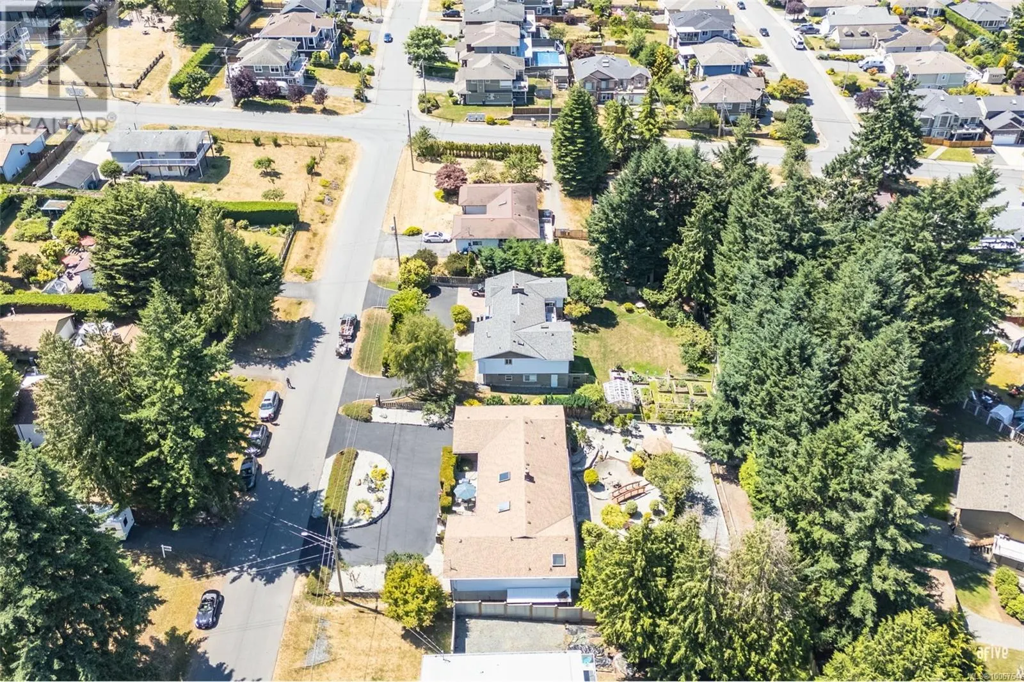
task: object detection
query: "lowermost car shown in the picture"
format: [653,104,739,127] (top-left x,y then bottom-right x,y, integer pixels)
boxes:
[194,584,225,628]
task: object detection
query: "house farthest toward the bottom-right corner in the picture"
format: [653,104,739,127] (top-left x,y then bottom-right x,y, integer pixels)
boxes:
[946,439,1024,567]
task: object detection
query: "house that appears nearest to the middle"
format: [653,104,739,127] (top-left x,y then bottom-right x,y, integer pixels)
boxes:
[473,266,576,392]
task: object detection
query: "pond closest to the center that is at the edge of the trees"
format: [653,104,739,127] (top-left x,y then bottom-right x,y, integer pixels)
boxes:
[591,458,648,511]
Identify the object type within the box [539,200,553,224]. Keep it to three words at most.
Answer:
car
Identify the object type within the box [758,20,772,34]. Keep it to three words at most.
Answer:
car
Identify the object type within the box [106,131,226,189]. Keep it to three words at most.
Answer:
house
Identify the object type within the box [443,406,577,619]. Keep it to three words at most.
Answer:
house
